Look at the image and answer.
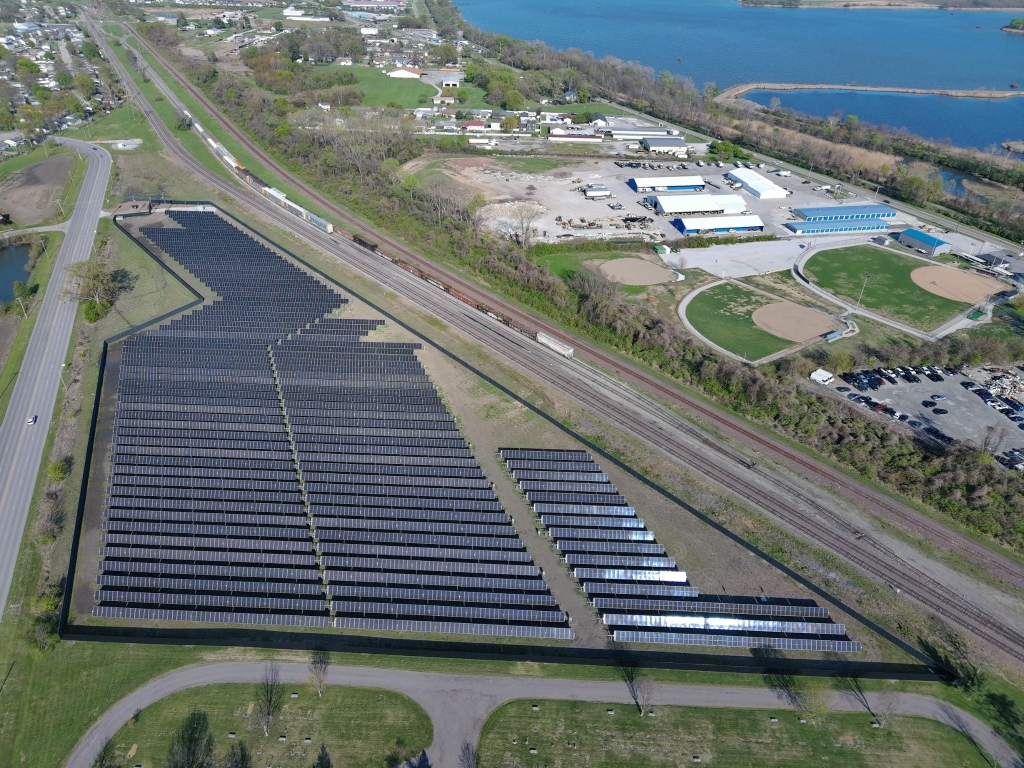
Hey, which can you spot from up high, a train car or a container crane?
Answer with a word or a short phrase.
train car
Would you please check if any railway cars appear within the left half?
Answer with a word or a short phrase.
Yes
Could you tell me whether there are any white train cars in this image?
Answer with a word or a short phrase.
Yes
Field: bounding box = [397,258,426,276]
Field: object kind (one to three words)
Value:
rail car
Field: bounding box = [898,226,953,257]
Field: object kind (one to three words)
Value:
building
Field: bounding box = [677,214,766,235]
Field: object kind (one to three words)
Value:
shed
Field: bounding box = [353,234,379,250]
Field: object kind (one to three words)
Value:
rail car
